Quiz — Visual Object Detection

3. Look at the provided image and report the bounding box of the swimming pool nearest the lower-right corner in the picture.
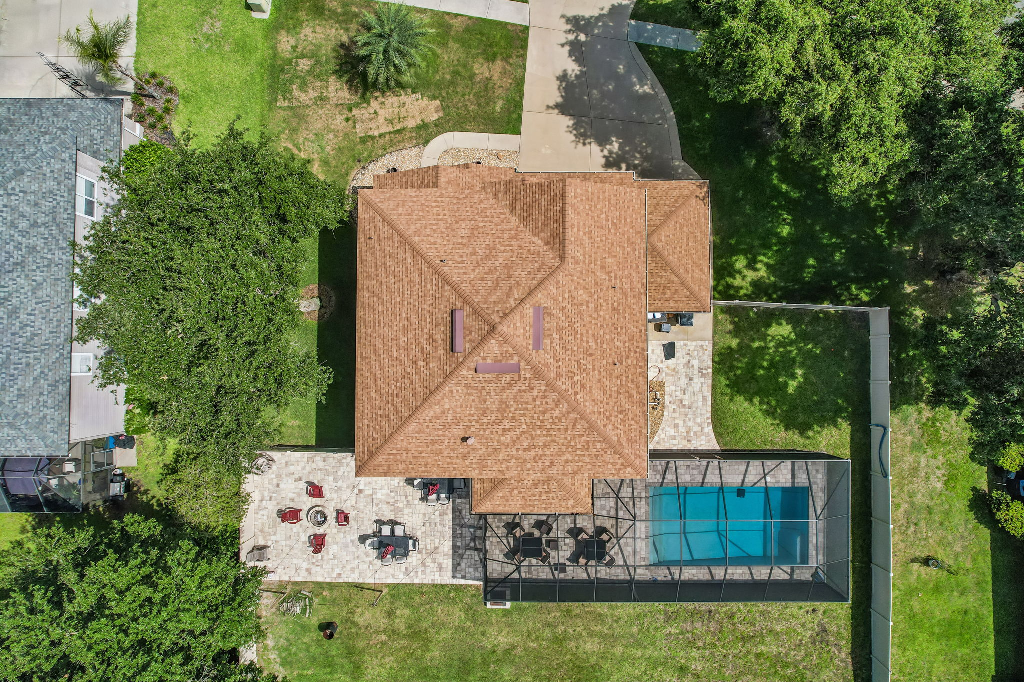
[646,483,815,570]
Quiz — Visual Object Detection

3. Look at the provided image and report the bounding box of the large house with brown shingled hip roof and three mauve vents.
[352,163,715,518]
